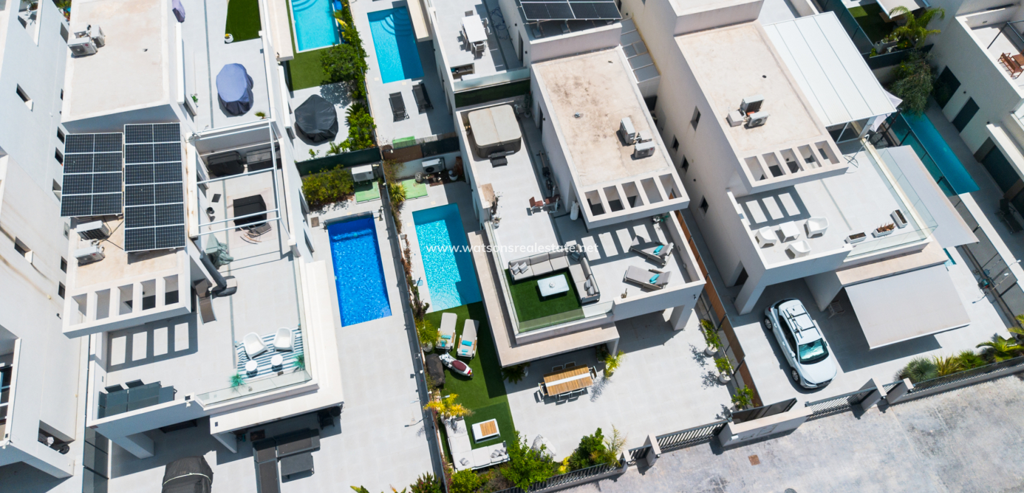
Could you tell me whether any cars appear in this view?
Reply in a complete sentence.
Yes, there is a car in the image.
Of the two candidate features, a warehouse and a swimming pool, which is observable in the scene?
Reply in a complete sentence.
The image shows a swimming pool.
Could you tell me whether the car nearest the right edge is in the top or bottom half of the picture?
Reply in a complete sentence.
Seen from above, the car nearest the right edge lies in the bottom half of the view.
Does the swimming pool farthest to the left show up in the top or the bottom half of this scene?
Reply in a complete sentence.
Seen from above, the swimming pool farthest to the left lies in the top half of the view.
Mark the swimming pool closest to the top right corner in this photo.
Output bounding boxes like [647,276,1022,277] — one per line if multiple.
[883,90,979,196]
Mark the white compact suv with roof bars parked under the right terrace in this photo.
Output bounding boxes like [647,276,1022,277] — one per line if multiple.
[768,297,835,388]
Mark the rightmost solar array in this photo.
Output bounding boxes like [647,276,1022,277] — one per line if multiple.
[523,0,619,33]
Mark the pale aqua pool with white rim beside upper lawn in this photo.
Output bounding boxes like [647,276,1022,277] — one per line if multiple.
[288,0,342,53]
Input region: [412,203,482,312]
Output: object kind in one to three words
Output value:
swimming pool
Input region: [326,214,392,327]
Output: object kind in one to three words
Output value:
swimming pool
